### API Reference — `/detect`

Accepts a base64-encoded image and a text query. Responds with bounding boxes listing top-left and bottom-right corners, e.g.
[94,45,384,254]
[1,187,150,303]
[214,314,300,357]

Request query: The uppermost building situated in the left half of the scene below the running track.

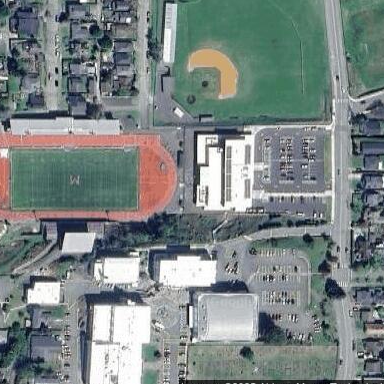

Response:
[62,233,95,253]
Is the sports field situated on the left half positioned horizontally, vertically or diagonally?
horizontally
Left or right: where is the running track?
left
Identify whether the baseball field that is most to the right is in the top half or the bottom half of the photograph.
top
